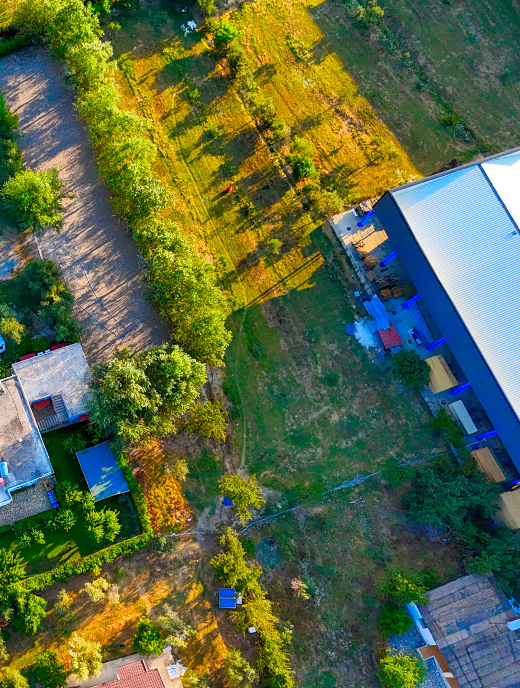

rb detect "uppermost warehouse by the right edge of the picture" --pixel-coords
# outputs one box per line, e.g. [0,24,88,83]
[353,145,520,486]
